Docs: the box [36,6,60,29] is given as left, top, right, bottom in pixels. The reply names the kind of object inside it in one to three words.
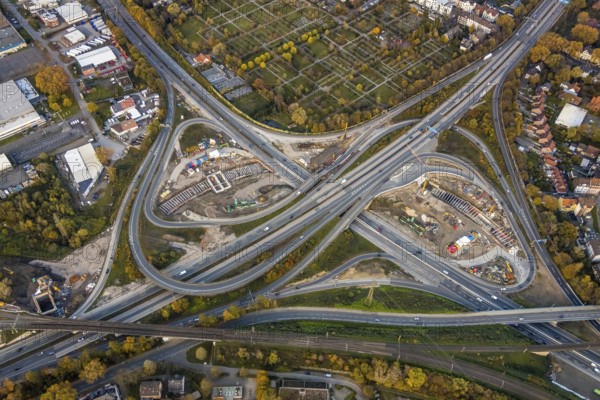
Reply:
building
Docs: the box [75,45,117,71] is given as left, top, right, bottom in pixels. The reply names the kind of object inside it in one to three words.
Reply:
building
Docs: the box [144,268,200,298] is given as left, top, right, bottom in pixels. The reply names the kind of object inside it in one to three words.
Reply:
bridge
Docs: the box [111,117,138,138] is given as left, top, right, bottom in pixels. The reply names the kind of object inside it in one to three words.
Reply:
house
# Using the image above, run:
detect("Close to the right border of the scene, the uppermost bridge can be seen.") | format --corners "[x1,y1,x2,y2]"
[478,303,600,327]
